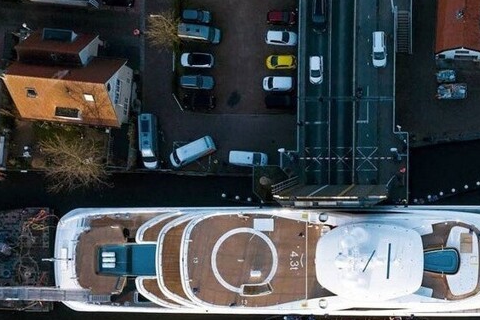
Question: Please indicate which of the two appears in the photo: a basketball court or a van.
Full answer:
The image shows a van.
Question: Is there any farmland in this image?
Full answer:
No, the scene doesn't show any farmland.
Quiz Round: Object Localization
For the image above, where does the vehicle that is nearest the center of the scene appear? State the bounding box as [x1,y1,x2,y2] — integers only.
[227,150,271,168]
